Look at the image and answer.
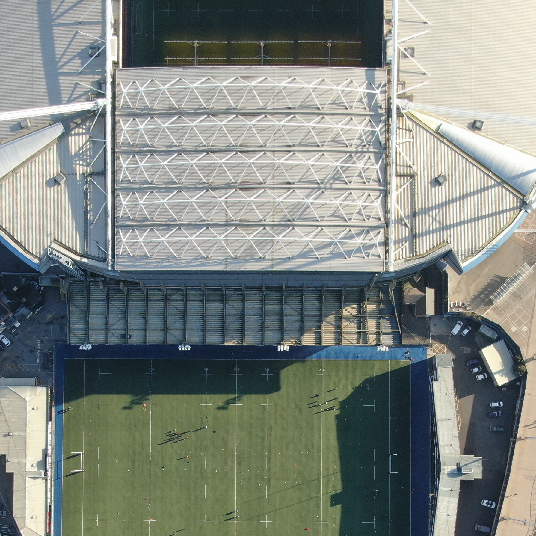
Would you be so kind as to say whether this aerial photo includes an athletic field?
Yes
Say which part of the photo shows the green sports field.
bottom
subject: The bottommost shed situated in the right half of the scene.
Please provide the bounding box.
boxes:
[476,341,520,387]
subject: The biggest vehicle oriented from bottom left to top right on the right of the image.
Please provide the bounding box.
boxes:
[451,321,463,336]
